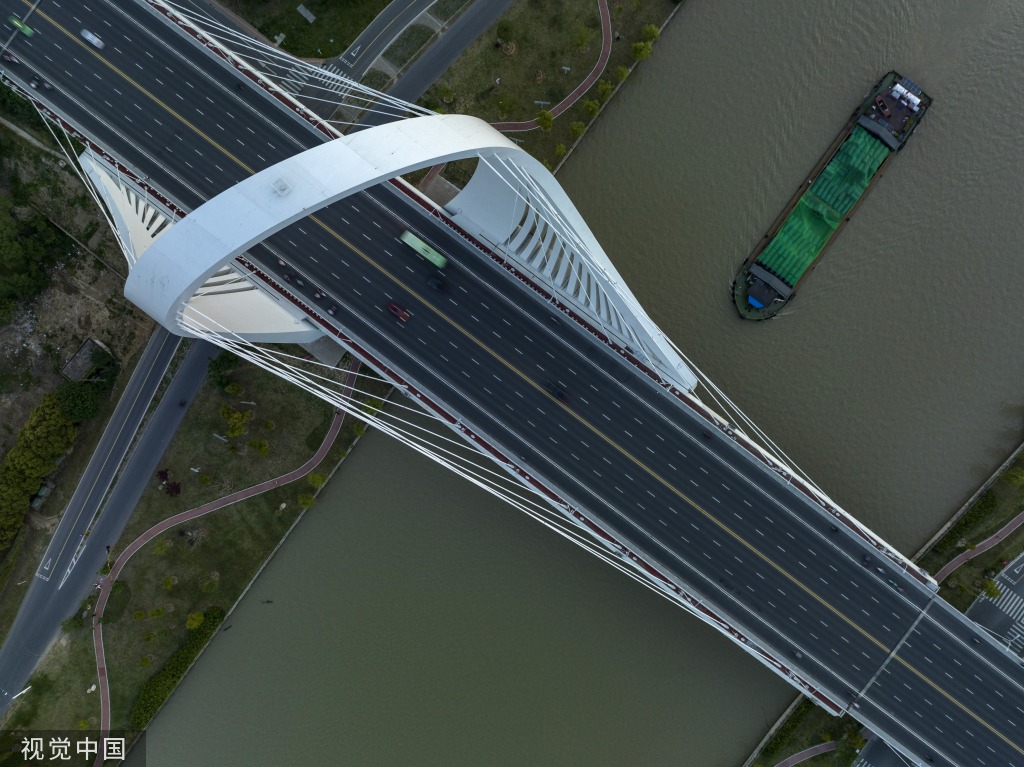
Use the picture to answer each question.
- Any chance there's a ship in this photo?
Yes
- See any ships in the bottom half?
No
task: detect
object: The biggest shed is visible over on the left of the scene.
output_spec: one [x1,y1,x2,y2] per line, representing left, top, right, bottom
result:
[59,337,119,388]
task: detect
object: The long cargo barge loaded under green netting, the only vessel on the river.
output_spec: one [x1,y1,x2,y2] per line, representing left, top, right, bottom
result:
[730,71,929,323]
